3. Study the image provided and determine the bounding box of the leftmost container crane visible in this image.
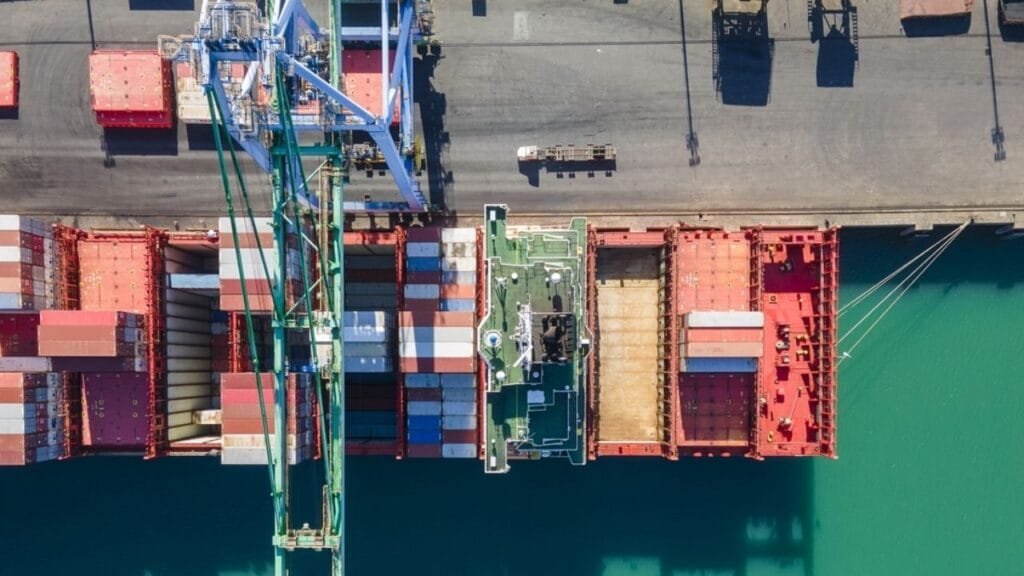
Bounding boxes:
[152,0,450,576]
